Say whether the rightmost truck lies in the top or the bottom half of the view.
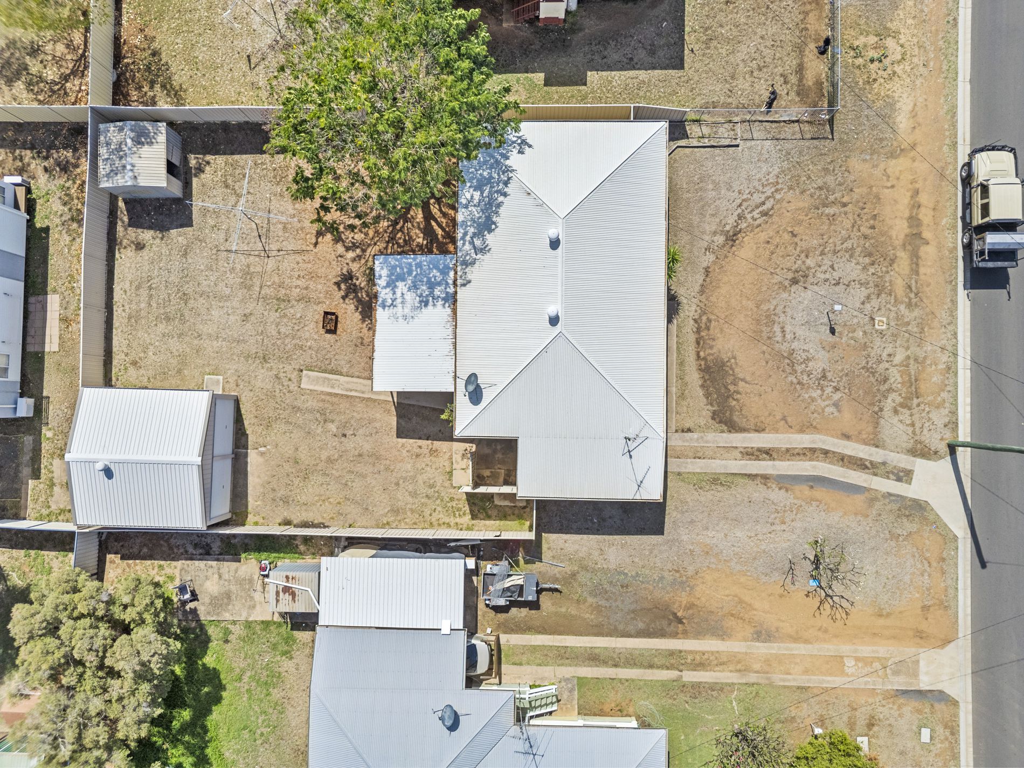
top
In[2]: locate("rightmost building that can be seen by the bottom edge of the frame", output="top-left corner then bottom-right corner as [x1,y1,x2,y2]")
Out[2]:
[306,606,670,768]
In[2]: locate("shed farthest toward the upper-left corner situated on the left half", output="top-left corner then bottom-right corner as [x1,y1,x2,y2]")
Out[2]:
[100,121,181,197]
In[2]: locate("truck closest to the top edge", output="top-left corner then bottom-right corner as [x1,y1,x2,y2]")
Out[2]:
[956,132,1024,270]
